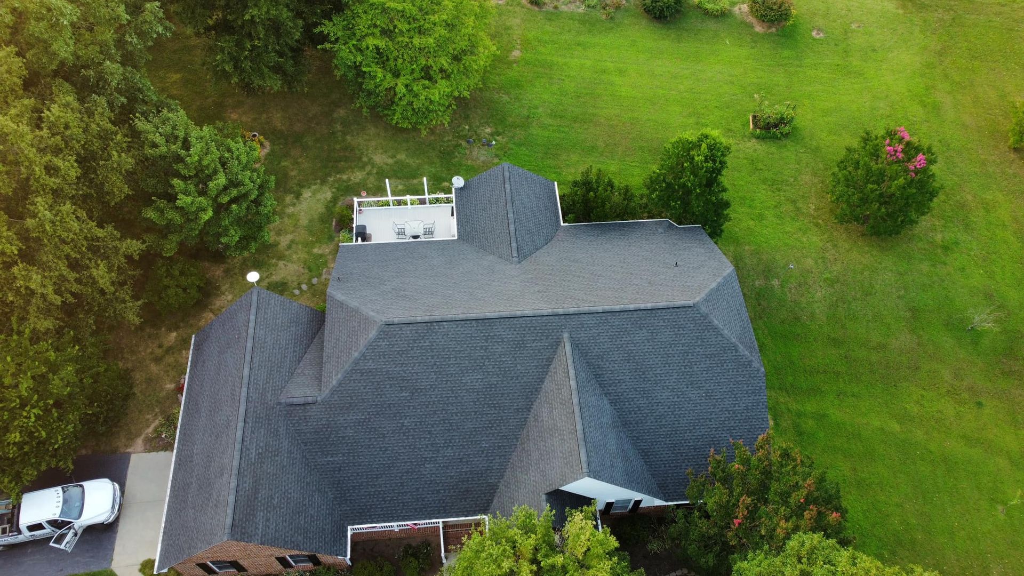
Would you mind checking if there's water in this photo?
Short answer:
No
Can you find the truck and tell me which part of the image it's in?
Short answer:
bottom left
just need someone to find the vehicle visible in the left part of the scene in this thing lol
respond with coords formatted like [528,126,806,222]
[0,480,129,558]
